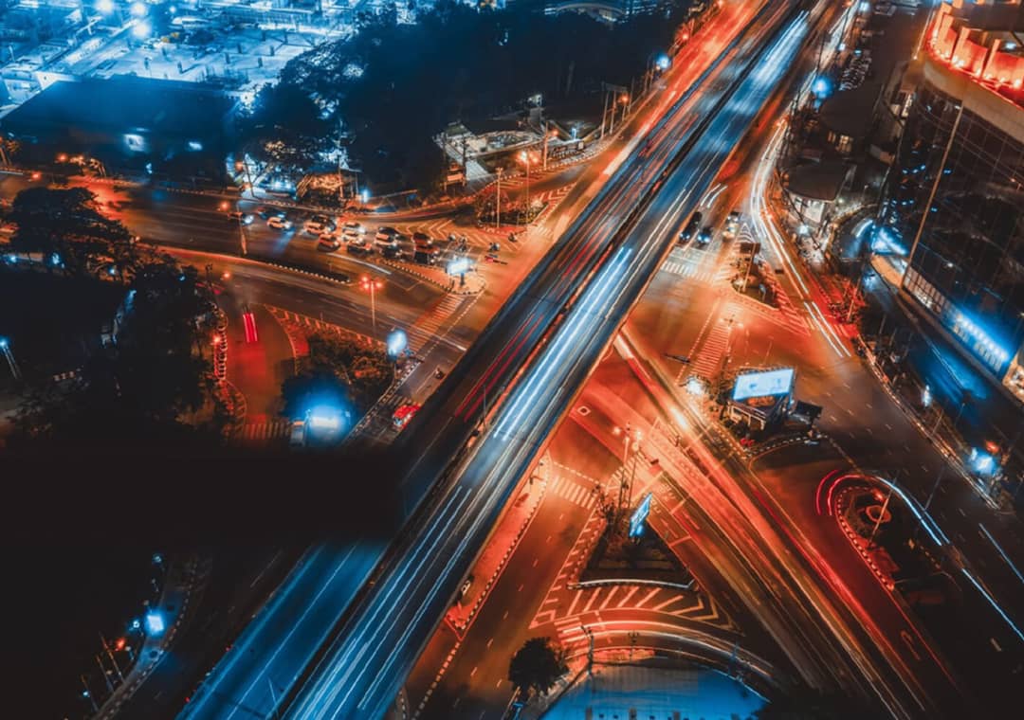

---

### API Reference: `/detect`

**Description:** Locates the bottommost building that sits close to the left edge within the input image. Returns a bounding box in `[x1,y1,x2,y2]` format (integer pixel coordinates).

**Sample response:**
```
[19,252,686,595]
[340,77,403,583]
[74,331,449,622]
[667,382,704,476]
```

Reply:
[0,92,262,190]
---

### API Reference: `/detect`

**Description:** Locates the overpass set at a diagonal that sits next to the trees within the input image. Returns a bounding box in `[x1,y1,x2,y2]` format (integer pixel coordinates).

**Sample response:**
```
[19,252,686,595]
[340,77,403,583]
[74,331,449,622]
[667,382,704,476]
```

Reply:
[167,0,833,720]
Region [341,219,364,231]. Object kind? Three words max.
vehicle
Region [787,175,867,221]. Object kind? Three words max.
building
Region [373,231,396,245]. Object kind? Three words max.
car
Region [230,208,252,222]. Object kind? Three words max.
car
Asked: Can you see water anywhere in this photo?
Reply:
No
